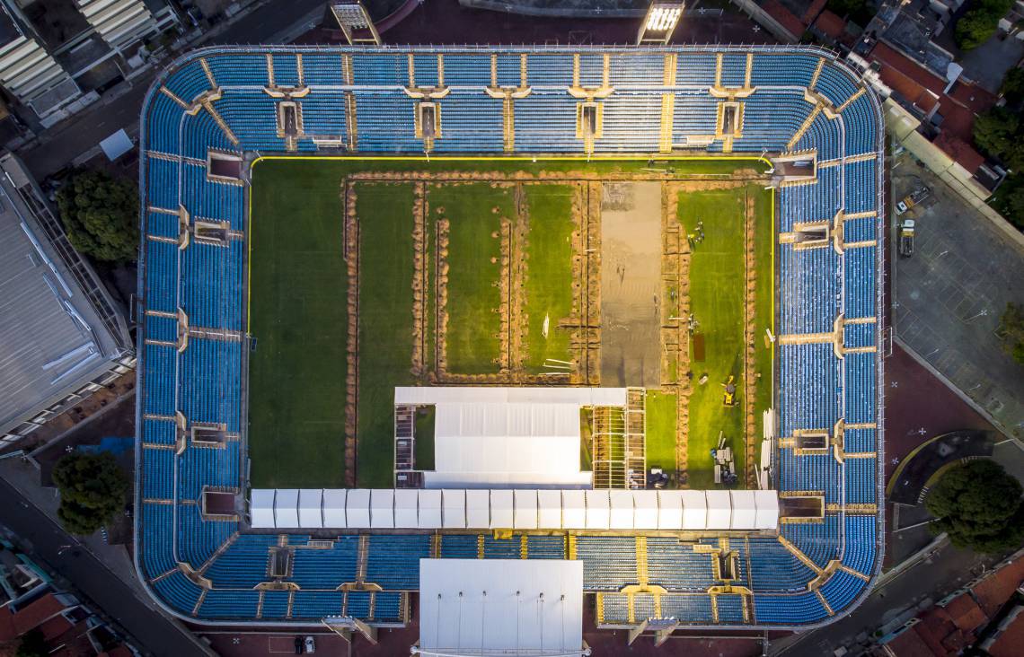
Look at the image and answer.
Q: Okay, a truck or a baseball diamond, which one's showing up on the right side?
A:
truck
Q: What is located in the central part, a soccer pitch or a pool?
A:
soccer pitch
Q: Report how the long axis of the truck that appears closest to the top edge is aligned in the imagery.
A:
on a diagonal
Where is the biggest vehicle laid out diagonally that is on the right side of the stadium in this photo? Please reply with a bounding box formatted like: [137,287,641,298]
[894,182,934,216]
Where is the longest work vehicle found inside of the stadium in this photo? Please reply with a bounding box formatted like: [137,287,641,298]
[723,375,739,404]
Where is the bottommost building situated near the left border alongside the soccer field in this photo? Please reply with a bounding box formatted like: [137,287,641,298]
[0,137,139,448]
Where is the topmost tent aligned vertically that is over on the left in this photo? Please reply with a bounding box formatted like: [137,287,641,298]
[395,404,418,472]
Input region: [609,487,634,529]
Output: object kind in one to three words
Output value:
tent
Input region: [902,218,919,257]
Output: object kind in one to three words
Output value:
vehicle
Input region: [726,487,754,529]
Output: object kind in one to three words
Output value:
tent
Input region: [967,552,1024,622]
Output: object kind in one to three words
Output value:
house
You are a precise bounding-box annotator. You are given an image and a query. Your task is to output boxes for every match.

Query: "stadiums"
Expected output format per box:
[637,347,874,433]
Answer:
[133,42,890,657]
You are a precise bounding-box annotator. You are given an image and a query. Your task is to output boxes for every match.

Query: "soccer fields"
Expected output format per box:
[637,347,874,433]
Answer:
[249,159,774,532]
